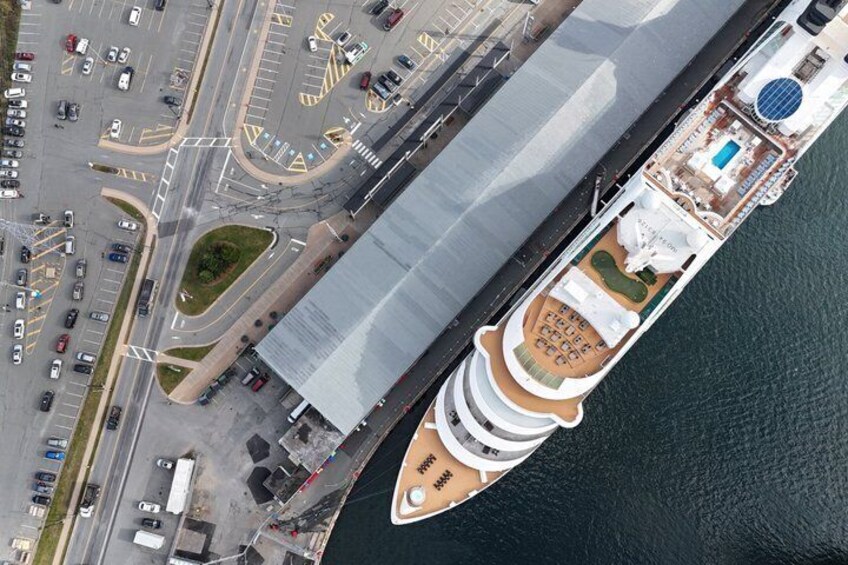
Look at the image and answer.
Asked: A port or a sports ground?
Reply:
port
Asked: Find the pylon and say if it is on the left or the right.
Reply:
left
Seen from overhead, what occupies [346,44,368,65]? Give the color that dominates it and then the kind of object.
white truck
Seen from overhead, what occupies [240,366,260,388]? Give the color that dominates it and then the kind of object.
gray vehicle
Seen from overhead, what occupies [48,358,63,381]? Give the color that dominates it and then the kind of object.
white vehicle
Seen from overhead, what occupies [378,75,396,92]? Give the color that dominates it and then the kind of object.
gray car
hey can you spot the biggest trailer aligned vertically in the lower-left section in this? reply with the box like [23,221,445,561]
[167,456,197,514]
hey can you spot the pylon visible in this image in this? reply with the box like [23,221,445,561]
[0,220,66,260]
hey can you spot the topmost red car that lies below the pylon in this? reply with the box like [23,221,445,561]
[55,333,70,353]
